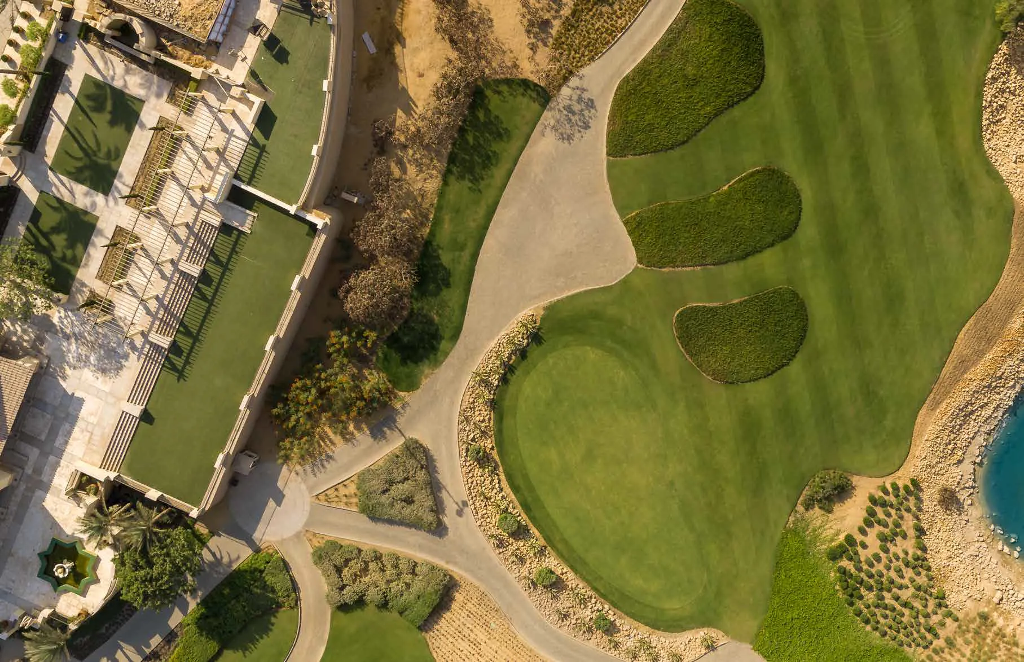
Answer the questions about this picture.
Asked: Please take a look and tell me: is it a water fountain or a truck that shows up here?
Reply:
water fountain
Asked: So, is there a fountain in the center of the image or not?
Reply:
No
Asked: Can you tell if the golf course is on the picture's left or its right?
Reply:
right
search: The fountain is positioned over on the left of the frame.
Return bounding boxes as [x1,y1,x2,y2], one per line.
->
[33,539,99,597]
